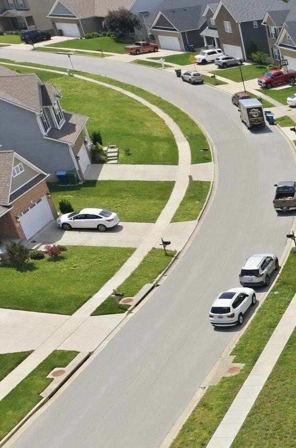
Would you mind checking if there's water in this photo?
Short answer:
No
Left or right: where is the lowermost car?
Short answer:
right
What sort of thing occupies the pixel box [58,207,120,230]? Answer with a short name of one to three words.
car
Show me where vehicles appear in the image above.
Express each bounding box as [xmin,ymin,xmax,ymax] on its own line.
[181,68,201,81]
[196,46,226,63]
[238,89,264,124]
[274,179,296,210]
[284,93,296,105]
[20,29,47,41]
[240,253,278,287]
[58,207,120,230]
[207,287,257,326]
[256,70,296,88]
[124,40,160,54]
[211,53,244,67]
